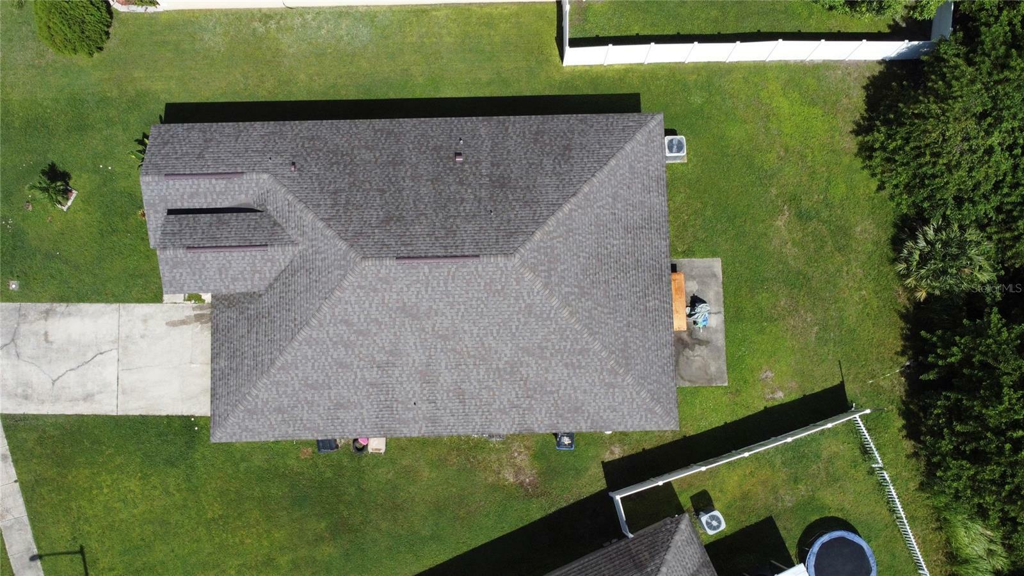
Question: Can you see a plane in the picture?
No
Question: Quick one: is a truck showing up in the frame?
No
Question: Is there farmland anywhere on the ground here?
No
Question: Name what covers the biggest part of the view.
grass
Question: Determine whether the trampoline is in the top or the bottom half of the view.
bottom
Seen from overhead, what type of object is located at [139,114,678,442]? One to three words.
house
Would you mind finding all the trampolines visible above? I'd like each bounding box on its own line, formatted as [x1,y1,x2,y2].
[806,529,877,576]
